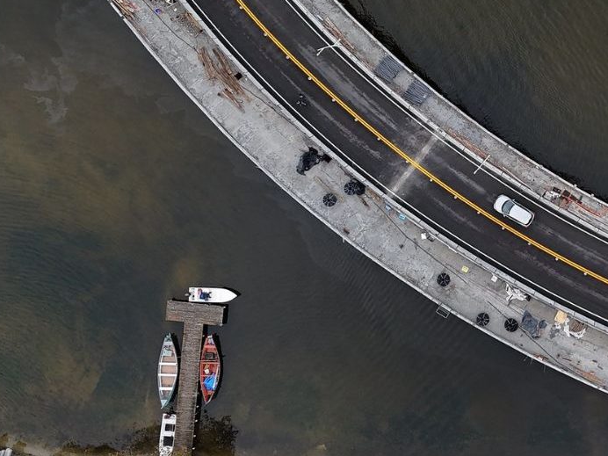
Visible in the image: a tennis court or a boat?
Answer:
boat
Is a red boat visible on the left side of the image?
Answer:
Yes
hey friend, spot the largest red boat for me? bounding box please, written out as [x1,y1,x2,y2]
[199,332,219,406]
